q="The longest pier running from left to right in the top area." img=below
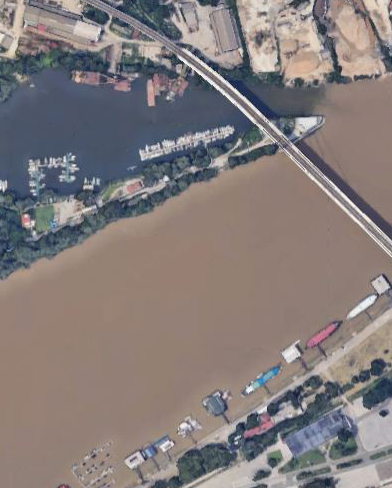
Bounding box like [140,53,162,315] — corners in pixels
[139,128,239,161]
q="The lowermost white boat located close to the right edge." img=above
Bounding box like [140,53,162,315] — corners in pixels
[346,295,377,320]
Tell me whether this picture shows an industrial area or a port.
port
